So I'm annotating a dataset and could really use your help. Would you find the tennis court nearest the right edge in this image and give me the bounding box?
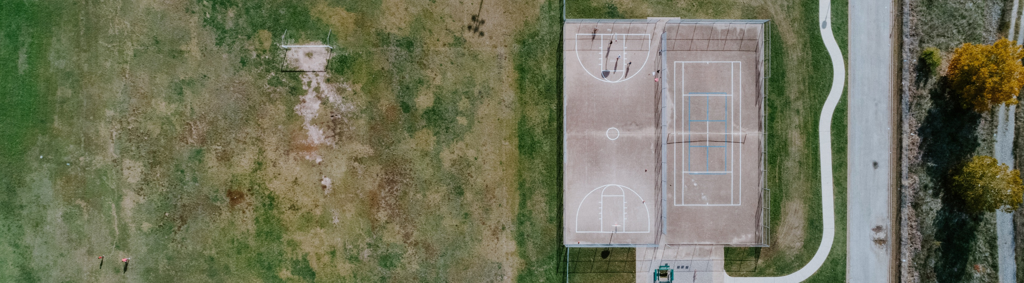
[661,23,763,245]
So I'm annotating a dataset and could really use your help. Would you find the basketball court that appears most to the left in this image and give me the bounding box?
[563,23,661,245]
